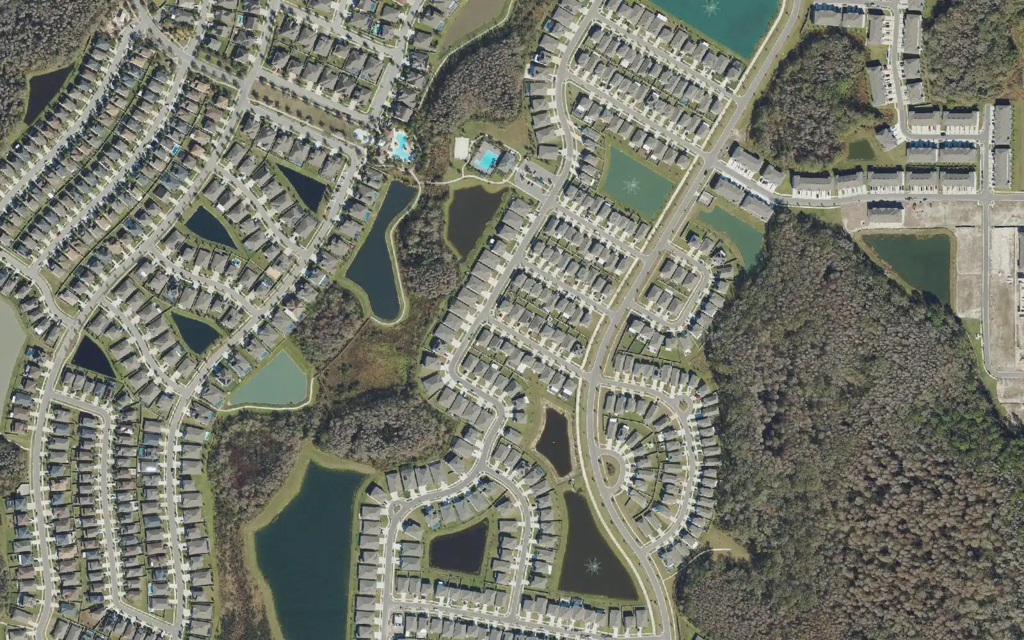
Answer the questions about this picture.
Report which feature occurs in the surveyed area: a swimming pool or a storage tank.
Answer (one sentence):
It is a swimming pool that can be seen here.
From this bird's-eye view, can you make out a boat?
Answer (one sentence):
No, there's no boat here.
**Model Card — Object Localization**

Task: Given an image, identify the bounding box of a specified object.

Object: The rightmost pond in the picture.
[862,232,952,305]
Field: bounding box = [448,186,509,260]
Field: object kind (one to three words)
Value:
pond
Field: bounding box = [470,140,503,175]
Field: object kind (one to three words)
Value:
swimming pool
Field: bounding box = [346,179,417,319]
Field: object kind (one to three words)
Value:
pond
